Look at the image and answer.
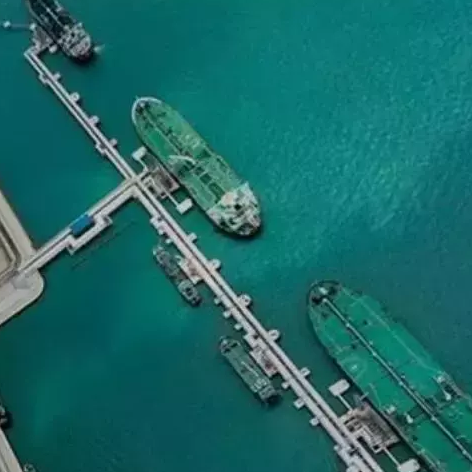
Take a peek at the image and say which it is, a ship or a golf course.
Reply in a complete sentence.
Visible in the photo is a ship.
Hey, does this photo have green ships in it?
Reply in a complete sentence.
Yes, the image includes a green ship.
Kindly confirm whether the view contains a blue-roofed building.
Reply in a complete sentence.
Yes, the picture does show a blue-roofed building.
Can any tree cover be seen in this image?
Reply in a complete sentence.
No, the picture contains no tree cover.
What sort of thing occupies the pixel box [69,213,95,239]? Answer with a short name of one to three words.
building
